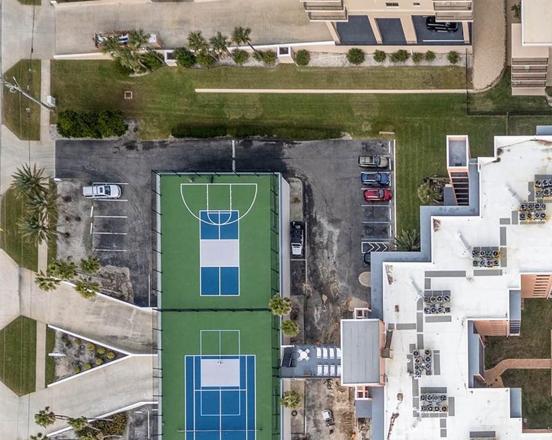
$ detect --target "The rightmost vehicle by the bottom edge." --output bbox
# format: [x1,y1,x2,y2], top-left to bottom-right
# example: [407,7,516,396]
[319,410,337,433]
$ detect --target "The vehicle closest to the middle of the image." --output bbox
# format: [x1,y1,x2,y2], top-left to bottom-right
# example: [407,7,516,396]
[289,222,305,254]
